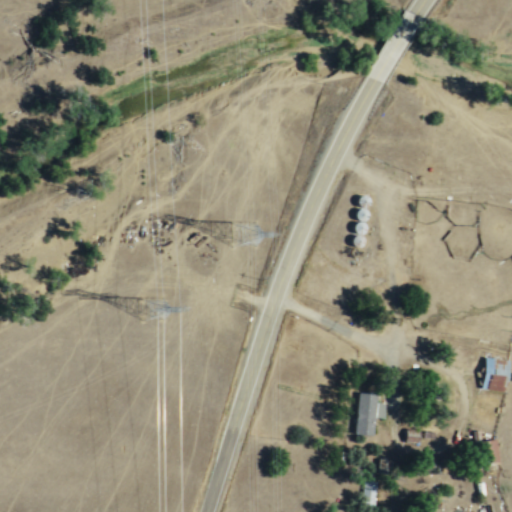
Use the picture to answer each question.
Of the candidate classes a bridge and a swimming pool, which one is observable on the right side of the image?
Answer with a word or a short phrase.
bridge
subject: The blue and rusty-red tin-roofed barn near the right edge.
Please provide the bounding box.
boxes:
[480,358,510,392]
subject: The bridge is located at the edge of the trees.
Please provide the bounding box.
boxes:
[366,14,428,82]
